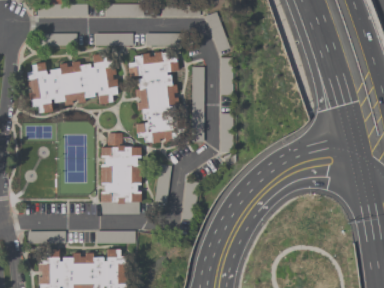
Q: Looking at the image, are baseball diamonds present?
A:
No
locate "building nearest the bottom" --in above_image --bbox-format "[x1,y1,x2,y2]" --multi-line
[39,248,128,288]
